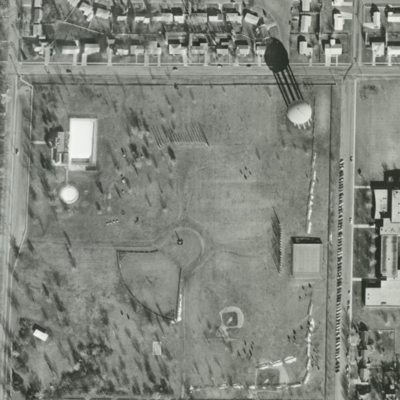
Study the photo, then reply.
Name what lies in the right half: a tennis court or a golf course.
tennis court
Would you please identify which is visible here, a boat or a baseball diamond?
baseball diamond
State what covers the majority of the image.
grass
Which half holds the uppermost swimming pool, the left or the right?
left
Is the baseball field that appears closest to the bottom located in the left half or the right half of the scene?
right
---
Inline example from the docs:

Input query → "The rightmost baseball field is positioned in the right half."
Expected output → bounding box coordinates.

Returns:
[256,366,289,387]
